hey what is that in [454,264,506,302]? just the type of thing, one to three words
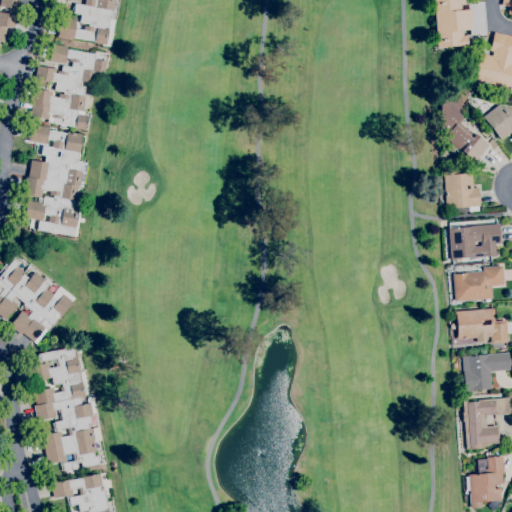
house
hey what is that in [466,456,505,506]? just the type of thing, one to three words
house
